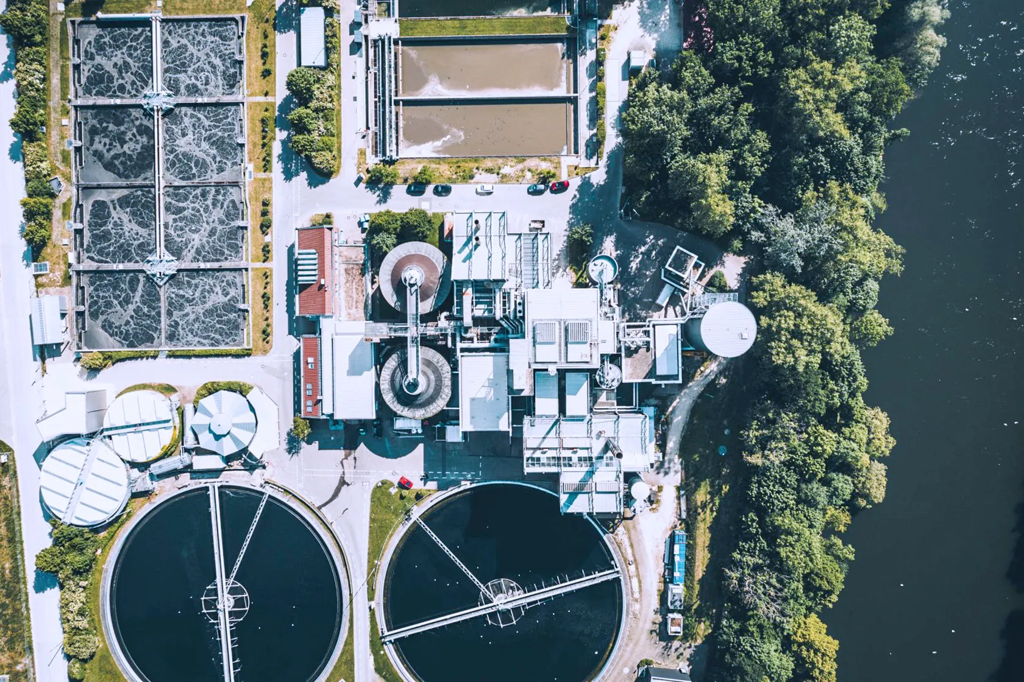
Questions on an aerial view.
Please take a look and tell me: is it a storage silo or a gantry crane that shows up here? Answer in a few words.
storage silo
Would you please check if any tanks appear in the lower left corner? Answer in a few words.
Yes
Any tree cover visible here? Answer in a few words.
Yes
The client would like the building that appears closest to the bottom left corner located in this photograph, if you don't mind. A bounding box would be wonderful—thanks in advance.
[133,472,157,493]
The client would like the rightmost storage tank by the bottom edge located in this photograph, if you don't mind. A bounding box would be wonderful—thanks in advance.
[379,479,625,682]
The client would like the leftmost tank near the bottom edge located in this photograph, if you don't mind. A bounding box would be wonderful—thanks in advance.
[103,475,351,682]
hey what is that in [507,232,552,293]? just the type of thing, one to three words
building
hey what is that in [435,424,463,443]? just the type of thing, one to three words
shed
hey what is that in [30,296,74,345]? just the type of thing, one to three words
shed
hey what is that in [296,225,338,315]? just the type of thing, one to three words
house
